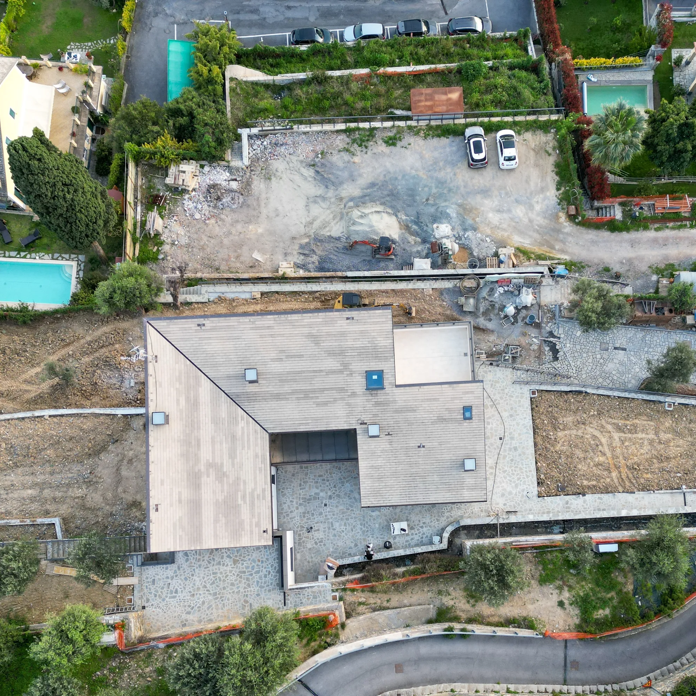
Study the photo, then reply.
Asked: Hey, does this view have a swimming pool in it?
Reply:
Yes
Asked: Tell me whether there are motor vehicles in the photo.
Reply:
Yes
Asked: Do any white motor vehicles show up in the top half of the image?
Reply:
Yes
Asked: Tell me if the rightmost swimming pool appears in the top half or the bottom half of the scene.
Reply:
top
